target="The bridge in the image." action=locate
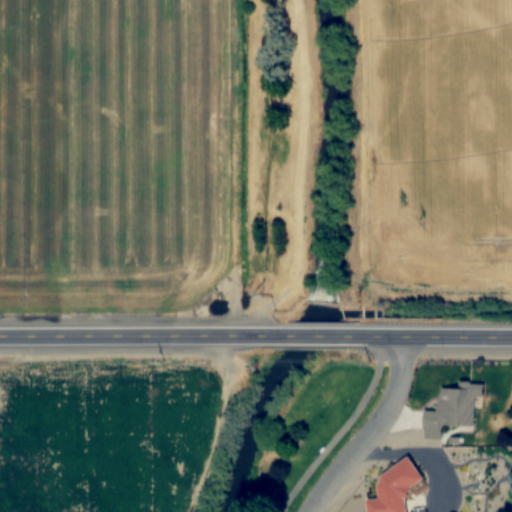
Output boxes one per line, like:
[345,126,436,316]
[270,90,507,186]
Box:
[235,321,372,358]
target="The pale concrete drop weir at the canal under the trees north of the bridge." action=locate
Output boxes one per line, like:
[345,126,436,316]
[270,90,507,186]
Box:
[308,259,342,305]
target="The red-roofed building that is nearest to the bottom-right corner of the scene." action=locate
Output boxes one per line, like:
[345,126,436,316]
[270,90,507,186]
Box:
[367,457,422,512]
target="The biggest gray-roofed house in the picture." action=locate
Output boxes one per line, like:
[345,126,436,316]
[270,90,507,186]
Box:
[424,382,485,439]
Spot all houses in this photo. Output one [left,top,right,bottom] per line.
[424,382,485,439]
[367,457,422,512]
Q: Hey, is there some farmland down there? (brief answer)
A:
Yes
